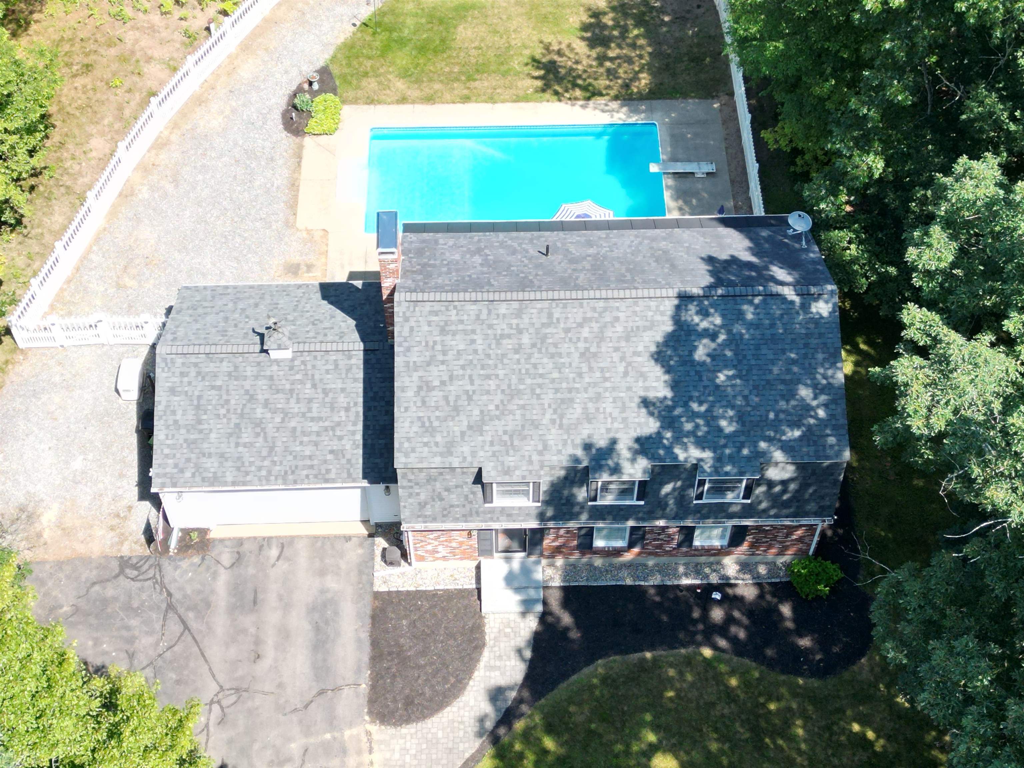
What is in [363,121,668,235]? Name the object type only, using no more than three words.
swimming pool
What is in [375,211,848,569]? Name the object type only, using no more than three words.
house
